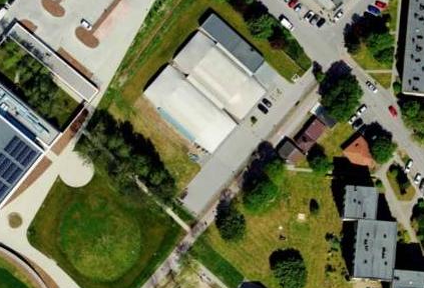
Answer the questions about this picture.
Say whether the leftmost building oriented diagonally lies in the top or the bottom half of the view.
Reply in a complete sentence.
The leftmost building oriented diagonally is in the top half of the image.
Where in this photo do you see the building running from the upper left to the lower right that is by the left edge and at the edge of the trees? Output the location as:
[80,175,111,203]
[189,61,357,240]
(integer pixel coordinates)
[0,22,100,104]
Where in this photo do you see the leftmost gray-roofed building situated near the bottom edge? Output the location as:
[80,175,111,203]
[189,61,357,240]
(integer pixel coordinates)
[352,220,399,283]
